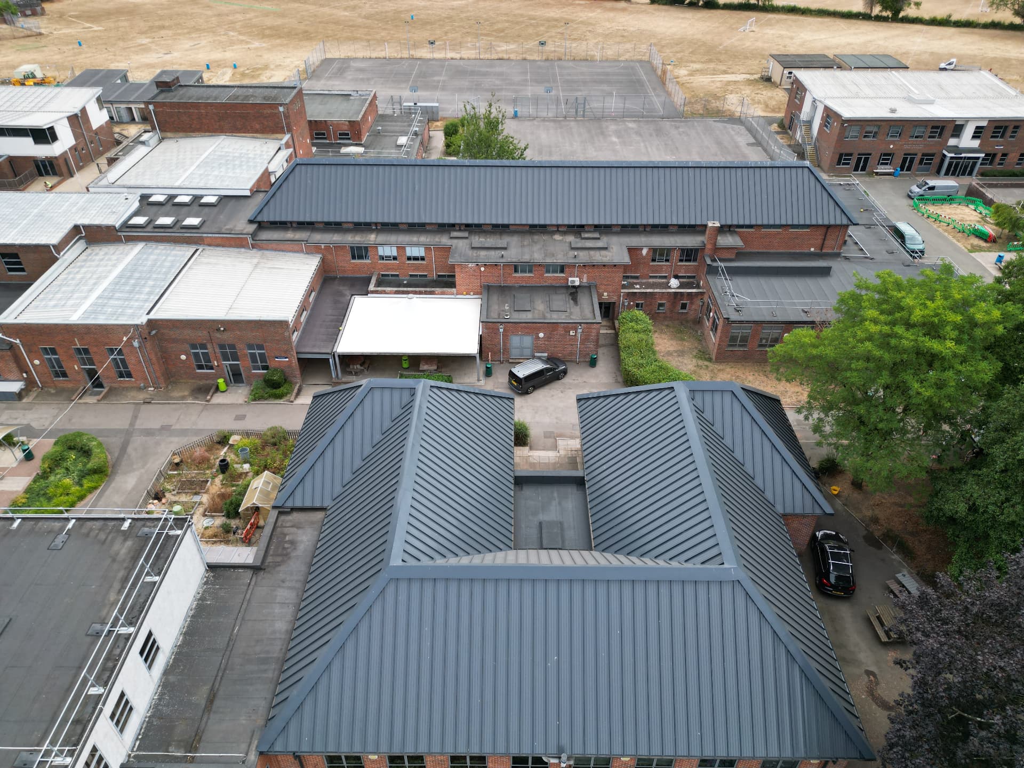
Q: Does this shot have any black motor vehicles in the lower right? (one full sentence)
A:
Yes, a black motor vehicle can be seen in the lower right.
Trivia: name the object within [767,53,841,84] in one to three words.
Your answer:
building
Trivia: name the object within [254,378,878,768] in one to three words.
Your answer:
building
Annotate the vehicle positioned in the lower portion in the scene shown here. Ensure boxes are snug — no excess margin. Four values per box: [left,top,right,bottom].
[811,533,855,605]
